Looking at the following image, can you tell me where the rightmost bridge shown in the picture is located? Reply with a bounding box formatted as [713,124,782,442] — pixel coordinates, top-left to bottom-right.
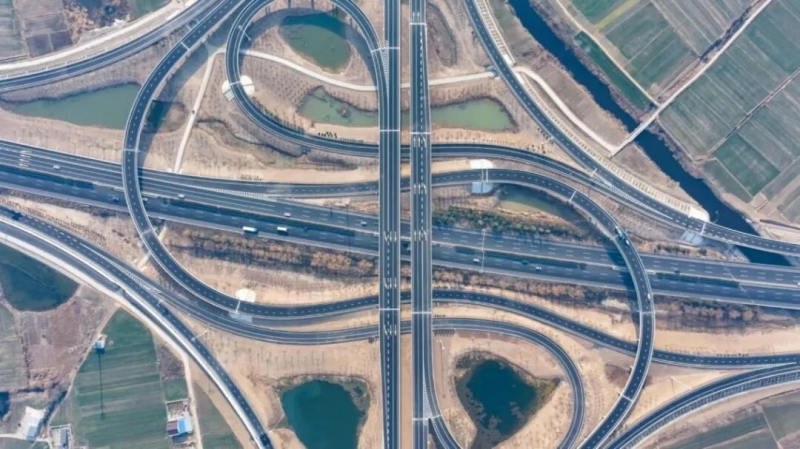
[684,201,800,257]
